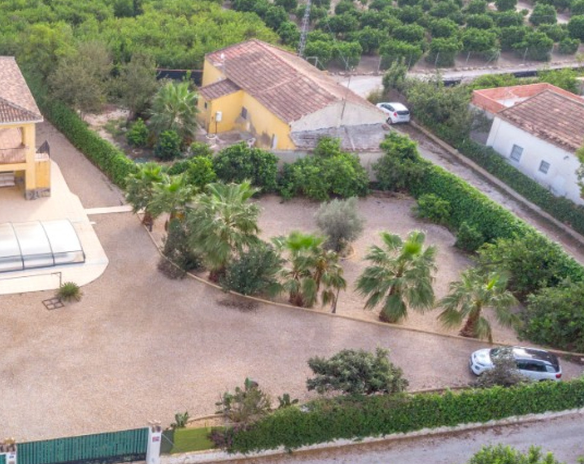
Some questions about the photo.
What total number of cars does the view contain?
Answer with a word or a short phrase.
2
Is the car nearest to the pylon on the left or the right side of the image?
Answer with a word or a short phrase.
right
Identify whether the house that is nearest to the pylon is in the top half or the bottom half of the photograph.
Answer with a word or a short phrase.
top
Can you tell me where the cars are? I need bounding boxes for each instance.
[464,334,567,379]
[377,101,415,123]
